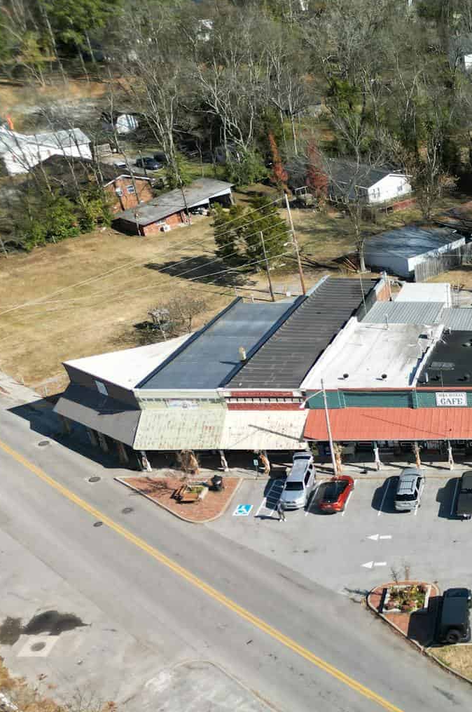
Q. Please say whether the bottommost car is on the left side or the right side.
right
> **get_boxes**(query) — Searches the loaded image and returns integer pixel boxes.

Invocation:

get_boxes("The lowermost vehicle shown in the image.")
[438,581,472,635]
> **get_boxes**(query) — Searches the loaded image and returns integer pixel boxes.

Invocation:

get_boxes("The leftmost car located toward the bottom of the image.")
[282,447,323,506]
